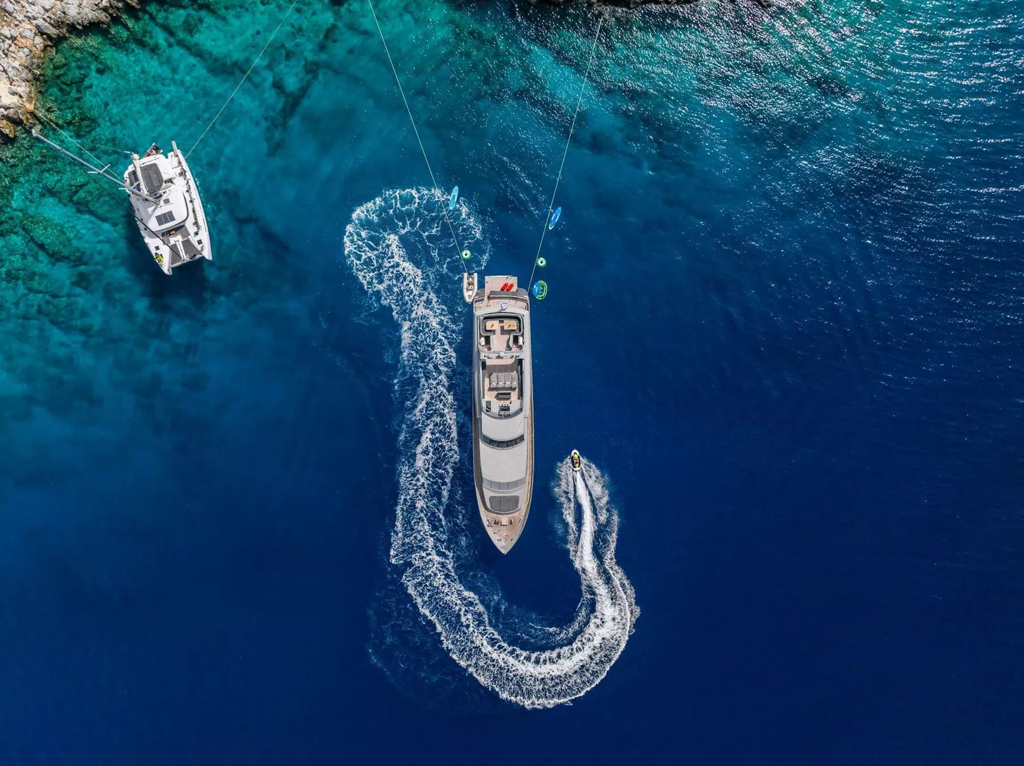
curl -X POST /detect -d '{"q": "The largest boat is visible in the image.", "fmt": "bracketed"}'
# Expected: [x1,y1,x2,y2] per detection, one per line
[473,275,534,554]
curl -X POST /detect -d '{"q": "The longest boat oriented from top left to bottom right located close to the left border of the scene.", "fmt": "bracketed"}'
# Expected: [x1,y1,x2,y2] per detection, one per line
[25,125,219,275]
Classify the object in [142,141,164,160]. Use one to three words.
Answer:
boat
